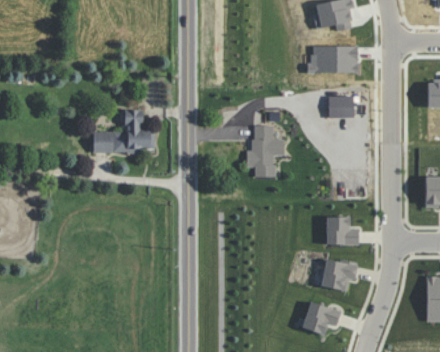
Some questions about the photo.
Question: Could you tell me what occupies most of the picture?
grass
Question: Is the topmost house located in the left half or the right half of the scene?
right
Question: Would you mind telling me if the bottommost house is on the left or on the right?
right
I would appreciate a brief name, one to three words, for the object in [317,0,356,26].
house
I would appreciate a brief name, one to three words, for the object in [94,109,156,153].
house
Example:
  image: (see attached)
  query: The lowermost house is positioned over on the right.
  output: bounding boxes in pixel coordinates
[304,302,342,337]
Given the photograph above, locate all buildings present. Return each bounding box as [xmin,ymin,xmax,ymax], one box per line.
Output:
[428,276,440,322]
[426,176,440,209]
[308,46,364,72]
[329,95,355,116]
[322,260,360,292]
[428,78,440,107]
[328,216,360,245]
[317,0,356,26]
[304,302,342,337]
[248,125,285,178]
[94,109,156,153]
